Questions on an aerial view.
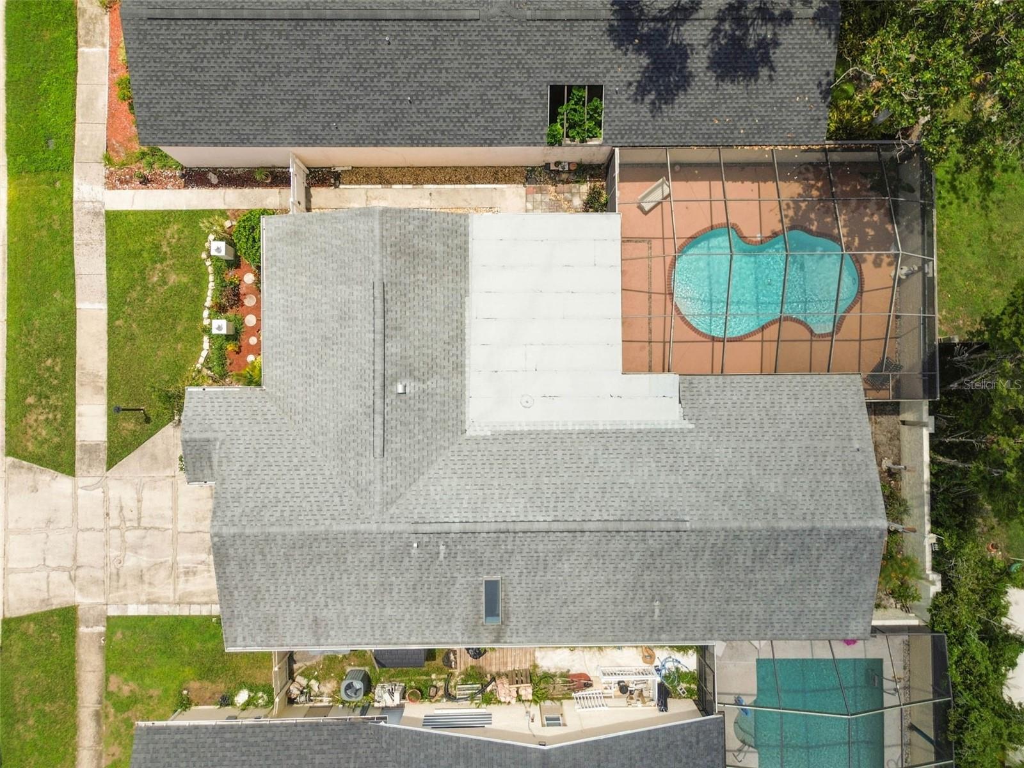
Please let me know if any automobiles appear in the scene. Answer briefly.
No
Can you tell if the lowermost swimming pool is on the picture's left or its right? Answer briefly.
right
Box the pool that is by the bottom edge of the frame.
[734,659,884,768]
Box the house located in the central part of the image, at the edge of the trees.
[181,206,888,654]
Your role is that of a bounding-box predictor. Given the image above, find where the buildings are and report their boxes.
[130,703,726,768]
[121,0,839,168]
[181,206,888,654]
